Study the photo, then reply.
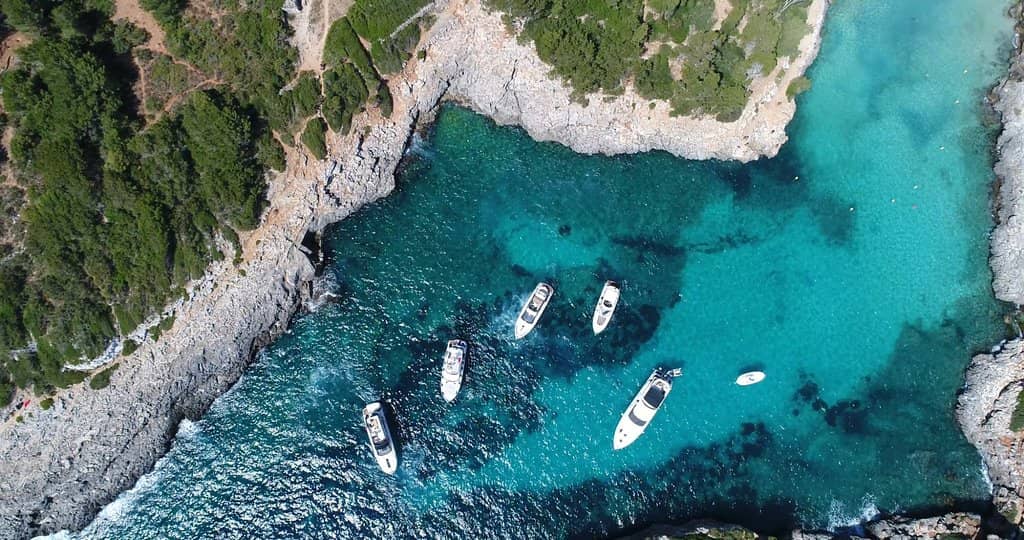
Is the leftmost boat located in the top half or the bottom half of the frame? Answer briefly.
bottom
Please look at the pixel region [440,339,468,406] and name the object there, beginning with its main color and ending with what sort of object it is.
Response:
white boat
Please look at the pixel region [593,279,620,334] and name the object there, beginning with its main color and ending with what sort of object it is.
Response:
white boat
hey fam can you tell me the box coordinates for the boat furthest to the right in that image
[737,371,766,385]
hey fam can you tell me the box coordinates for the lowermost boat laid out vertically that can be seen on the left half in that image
[364,402,402,491]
